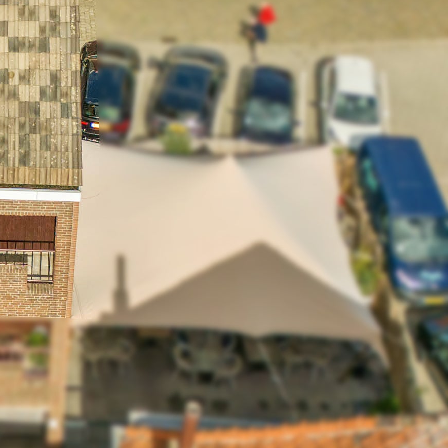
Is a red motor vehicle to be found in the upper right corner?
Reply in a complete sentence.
No, in the upper right corner there is no red motor vehicle.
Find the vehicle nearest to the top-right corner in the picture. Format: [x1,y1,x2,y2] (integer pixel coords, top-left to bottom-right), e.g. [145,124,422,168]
[312,58,394,148]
